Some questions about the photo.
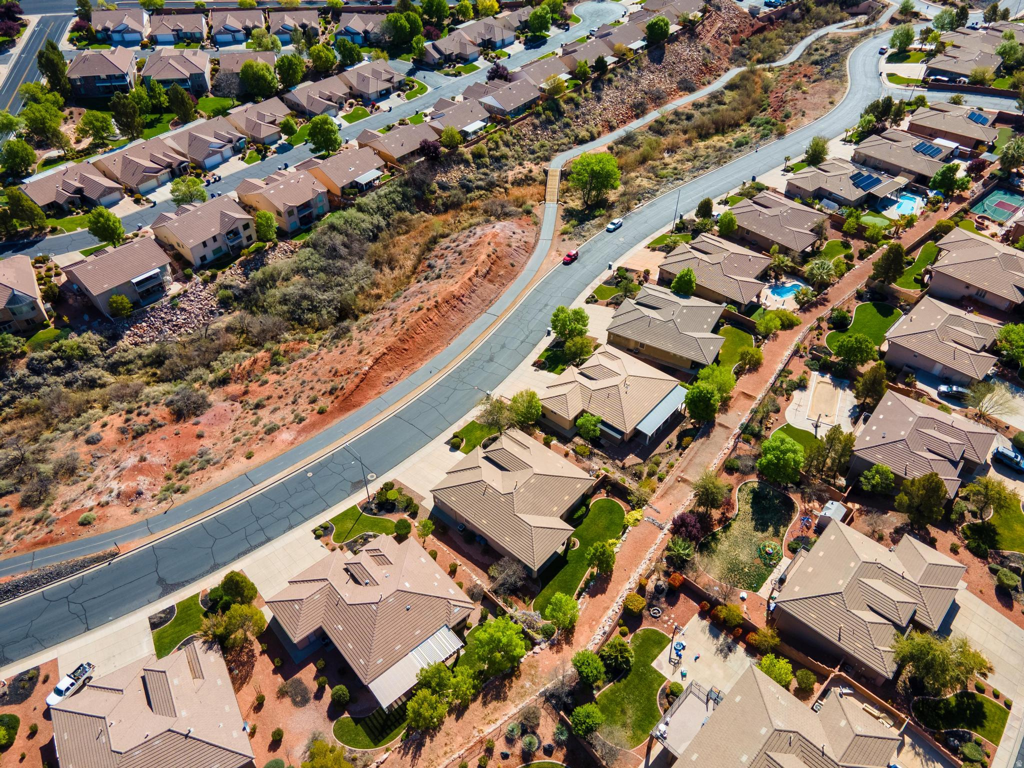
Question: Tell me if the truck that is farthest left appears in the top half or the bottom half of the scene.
bottom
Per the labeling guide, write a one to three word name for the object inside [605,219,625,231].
vehicle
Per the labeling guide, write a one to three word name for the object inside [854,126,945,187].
house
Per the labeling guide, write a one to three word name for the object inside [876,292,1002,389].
house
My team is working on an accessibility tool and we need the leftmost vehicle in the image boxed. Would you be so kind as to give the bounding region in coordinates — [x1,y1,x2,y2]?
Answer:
[44,656,102,705]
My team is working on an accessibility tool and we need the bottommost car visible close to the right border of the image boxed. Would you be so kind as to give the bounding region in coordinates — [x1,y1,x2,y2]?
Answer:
[992,444,1024,472]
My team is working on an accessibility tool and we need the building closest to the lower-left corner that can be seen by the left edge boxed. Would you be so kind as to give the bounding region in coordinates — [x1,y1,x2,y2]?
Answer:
[49,639,256,768]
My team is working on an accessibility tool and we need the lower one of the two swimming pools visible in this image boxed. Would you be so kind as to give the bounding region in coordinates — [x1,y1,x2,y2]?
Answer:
[770,283,801,298]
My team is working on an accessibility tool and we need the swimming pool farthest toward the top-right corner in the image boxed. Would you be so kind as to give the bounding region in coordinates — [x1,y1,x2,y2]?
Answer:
[896,195,916,214]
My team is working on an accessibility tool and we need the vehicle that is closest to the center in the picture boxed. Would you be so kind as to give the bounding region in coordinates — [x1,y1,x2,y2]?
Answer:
[560,247,581,264]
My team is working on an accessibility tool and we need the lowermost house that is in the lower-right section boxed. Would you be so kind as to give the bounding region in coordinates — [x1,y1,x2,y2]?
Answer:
[681,663,909,768]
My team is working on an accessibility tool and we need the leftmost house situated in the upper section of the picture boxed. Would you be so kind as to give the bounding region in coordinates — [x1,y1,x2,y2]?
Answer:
[0,255,48,337]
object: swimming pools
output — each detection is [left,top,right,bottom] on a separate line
[896,195,916,214]
[770,283,801,298]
